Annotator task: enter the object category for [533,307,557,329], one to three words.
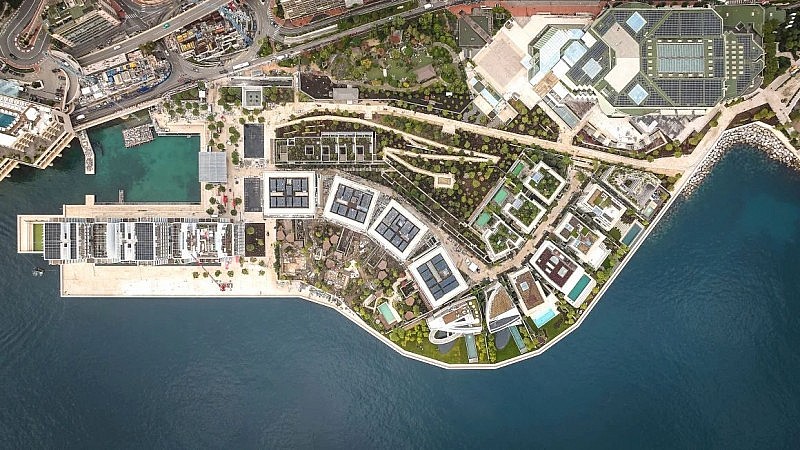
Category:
swimming pool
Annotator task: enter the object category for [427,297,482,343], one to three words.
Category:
house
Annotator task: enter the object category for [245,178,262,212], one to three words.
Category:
building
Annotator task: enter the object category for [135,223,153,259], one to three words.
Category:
solar panel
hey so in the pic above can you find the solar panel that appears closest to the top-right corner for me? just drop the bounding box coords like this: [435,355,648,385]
[738,36,762,59]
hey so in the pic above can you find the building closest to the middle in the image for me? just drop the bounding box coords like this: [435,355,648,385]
[368,198,428,259]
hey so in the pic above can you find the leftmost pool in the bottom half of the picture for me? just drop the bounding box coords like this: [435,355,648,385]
[376,302,398,326]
